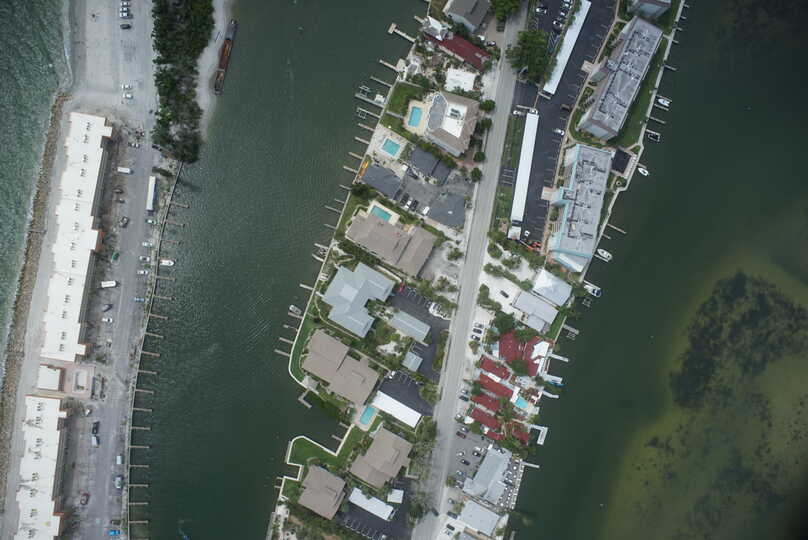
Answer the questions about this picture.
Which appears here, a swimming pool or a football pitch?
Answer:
swimming pool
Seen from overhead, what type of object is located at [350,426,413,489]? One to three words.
house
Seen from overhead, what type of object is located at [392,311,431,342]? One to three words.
building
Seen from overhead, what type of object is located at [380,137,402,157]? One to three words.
swimming pool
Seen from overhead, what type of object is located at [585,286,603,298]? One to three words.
boat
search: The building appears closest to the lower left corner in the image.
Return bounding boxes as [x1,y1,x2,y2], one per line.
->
[13,394,77,540]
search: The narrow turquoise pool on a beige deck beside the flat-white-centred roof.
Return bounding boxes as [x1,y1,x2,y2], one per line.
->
[407,105,424,128]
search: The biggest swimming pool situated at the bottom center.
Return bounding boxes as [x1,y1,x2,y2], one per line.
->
[359,406,376,426]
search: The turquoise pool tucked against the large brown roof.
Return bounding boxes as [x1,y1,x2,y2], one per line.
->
[369,204,392,223]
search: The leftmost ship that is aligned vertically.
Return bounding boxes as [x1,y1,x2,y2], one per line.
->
[213,18,237,95]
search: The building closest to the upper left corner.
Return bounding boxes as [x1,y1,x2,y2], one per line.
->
[40,112,121,361]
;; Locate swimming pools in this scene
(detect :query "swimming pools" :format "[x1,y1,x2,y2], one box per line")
[359,406,376,426]
[513,396,529,410]
[407,105,424,128]
[380,137,402,157]
[369,204,392,223]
